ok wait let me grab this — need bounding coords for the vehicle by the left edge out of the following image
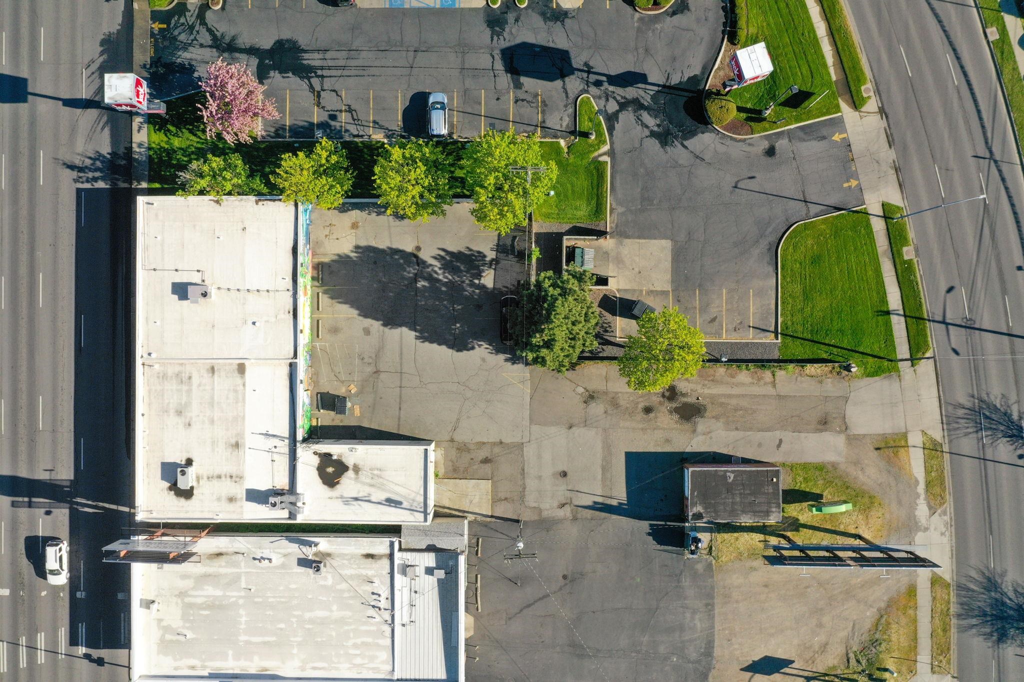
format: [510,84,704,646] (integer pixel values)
[43,538,70,584]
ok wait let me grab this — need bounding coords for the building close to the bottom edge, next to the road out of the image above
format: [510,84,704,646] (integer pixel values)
[130,518,469,682]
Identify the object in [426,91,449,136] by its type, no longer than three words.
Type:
car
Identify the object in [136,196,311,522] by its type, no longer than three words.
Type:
building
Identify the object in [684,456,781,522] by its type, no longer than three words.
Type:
building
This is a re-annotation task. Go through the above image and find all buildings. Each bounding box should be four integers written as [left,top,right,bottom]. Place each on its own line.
[684,456,781,522]
[136,196,311,522]
[130,518,469,682]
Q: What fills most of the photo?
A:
paved ground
